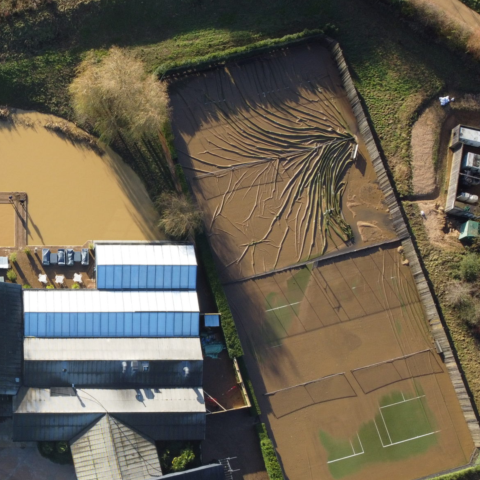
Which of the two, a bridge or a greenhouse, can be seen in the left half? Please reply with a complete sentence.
What appears in the left half is a greenhouse.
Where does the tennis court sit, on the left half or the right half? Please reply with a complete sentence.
You can find the tennis court on the right side of the picture.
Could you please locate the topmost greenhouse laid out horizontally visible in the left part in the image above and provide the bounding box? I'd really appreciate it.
[93,242,199,290]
